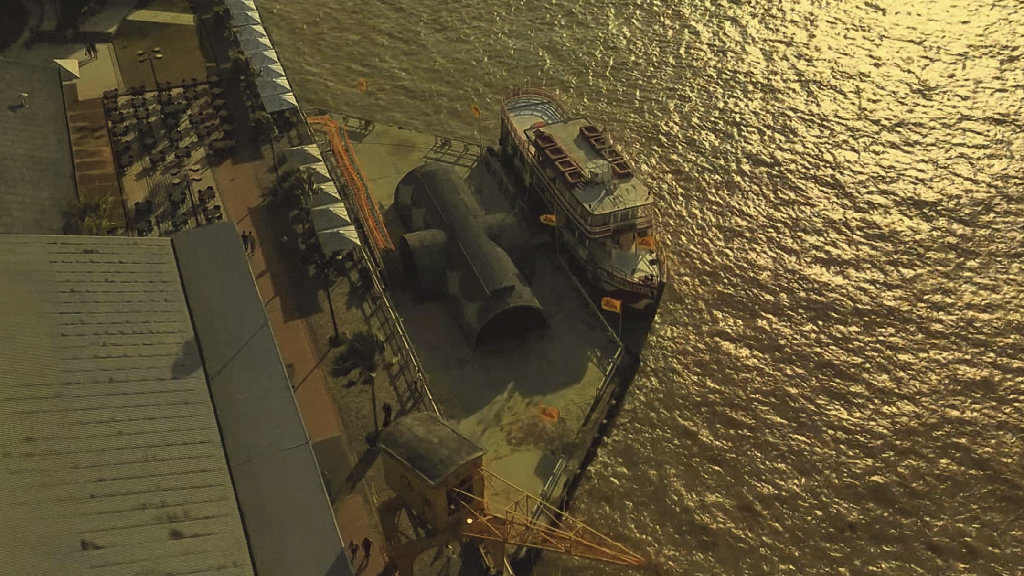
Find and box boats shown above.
[498,82,666,336]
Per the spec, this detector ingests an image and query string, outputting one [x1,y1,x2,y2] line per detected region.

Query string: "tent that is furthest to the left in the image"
[51,58,86,100]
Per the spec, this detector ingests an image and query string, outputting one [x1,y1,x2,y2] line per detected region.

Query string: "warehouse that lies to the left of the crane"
[0,223,355,576]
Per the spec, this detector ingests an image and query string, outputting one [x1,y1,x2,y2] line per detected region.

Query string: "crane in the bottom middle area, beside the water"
[362,415,651,576]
